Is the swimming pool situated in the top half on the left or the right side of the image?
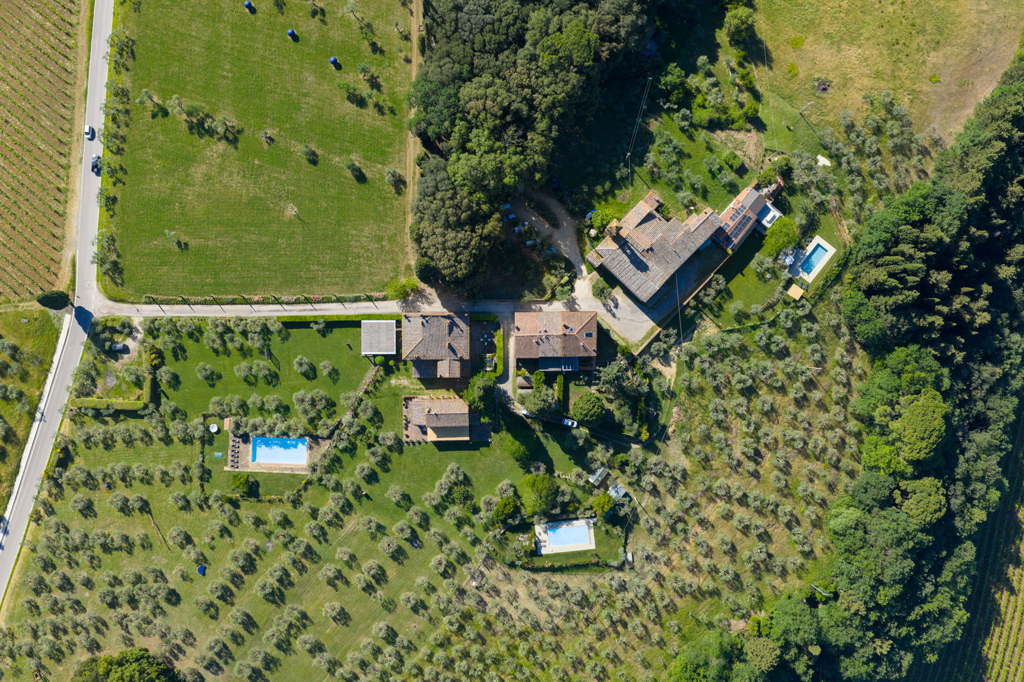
right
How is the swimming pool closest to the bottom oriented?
from left to right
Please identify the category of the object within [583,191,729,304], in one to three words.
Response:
house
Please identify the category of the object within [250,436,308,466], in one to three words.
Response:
swimming pool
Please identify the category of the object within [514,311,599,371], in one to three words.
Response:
house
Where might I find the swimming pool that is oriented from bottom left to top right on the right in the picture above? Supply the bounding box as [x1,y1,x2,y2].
[798,242,830,276]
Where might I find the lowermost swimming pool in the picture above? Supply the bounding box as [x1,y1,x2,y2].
[547,524,591,548]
